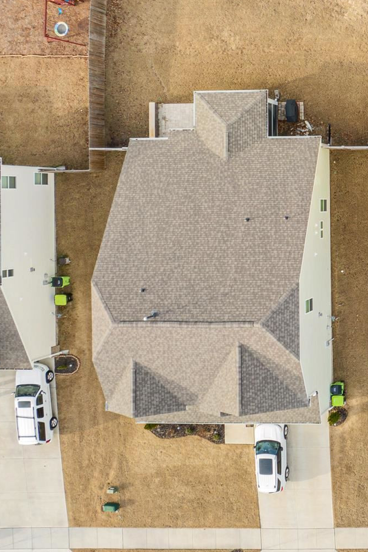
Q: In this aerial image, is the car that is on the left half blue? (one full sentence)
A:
No, the color of the car that is on the left half is white.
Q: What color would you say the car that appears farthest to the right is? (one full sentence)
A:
From above, the car that appears farthest to the right appears white.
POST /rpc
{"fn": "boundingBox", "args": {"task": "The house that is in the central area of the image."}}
[90,89,341,424]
